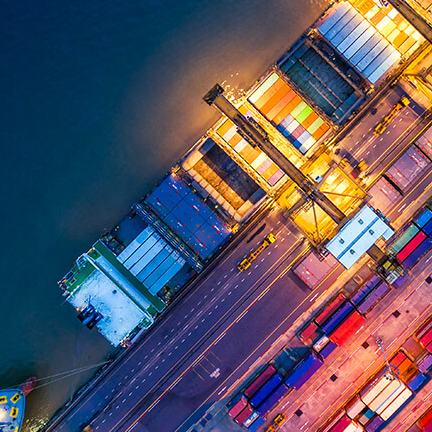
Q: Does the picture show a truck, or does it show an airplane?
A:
truck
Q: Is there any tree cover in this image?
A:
No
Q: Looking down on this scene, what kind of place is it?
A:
port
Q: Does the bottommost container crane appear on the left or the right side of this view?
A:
right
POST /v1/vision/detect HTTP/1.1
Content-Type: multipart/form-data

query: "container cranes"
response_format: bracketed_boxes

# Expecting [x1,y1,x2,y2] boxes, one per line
[373,0,432,127]
[200,82,413,290]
